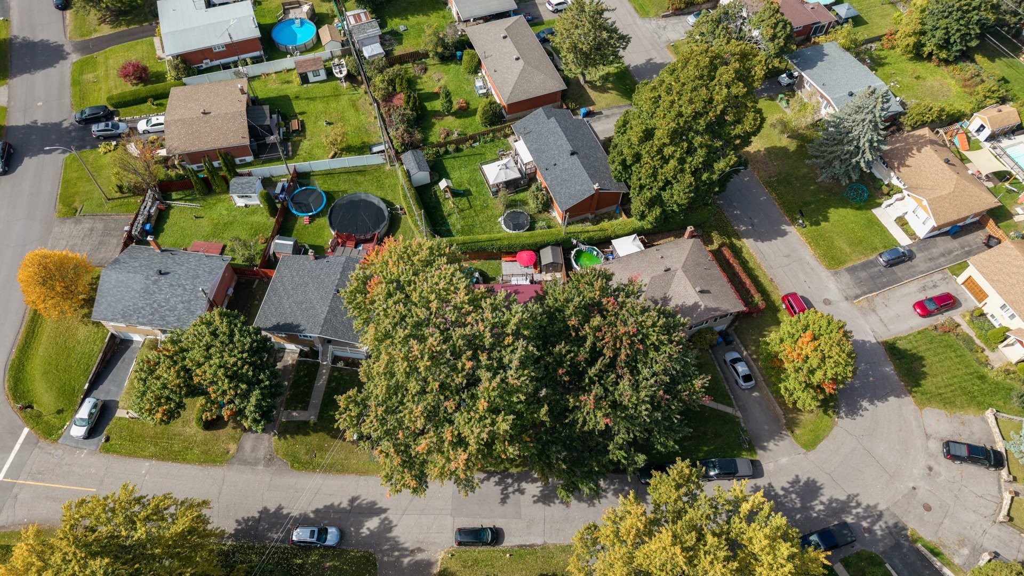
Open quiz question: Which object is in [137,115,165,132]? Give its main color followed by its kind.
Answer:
white car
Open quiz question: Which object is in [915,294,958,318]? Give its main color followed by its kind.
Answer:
red car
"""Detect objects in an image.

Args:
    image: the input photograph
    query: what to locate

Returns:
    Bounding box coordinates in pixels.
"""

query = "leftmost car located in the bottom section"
[69,395,107,439]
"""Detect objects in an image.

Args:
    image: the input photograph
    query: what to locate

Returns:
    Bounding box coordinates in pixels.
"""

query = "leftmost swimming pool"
[269,18,320,55]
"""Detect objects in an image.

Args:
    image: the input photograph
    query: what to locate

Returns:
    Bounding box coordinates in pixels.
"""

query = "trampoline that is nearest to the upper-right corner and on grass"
[502,202,530,232]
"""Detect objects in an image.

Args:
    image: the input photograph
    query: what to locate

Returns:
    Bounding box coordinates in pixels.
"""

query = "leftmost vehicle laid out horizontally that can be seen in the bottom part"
[287,522,342,547]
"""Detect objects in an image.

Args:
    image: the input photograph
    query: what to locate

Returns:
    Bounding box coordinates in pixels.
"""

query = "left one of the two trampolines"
[284,178,328,221]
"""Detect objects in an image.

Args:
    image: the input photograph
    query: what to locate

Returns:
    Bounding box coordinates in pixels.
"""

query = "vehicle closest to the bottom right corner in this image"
[944,440,1005,470]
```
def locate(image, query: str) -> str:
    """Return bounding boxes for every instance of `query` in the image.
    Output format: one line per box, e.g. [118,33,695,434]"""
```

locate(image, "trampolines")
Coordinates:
[284,178,328,221]
[502,202,530,232]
